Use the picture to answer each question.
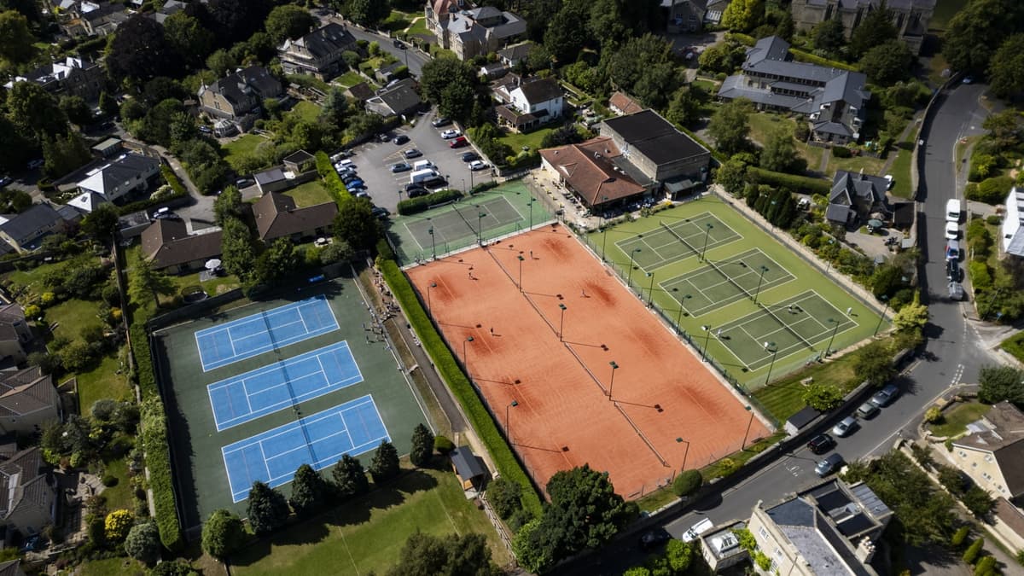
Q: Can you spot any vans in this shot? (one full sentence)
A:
Yes, you can see a van in this photo.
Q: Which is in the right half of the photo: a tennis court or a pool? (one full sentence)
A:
Visible in the right half of the photo is a tennis court.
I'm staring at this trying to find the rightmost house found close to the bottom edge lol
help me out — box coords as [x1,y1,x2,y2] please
[945,402,1024,560]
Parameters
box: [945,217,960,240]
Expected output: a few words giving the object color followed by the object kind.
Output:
white vehicle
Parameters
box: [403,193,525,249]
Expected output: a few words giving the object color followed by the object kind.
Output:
gray tennis court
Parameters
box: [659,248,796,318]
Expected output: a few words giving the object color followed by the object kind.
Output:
green tennis court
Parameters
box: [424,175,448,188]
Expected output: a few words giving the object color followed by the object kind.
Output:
black vehicle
